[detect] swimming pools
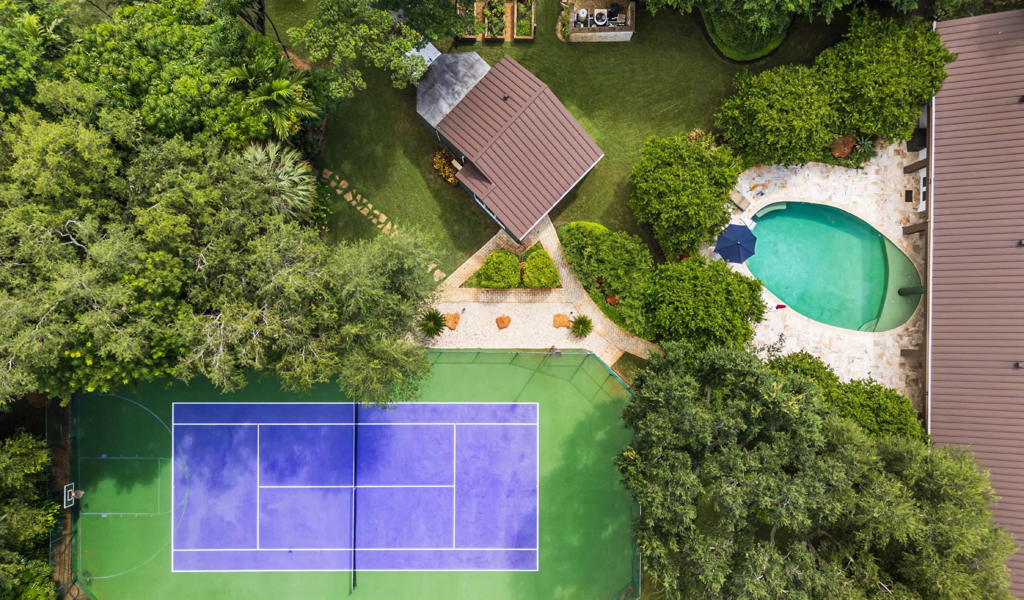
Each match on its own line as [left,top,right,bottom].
[746,195,925,338]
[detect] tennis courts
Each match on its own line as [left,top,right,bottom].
[71,348,634,600]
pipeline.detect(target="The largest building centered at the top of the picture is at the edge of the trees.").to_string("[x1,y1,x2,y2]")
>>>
[417,51,604,244]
